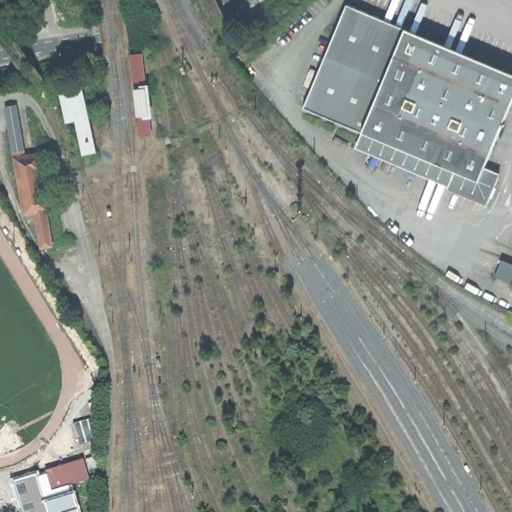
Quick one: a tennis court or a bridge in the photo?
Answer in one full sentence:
Visible in the photo is a bridge.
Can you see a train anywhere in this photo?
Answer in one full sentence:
No, the picture doesn't show any train.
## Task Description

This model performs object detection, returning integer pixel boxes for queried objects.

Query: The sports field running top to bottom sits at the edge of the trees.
[0,228,86,468]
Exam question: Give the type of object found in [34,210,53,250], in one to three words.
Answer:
house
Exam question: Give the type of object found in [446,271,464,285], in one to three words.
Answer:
vehicle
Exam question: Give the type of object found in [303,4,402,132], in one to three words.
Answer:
building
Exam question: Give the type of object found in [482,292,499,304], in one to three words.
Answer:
vehicle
